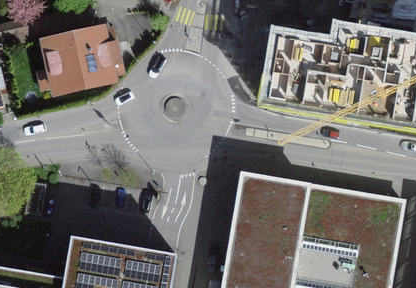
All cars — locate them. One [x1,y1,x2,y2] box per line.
[149,52,166,76]
[90,184,102,207]
[142,189,153,214]
[400,140,416,151]
[114,90,136,104]
[116,186,126,208]
[319,126,341,138]
[24,122,46,134]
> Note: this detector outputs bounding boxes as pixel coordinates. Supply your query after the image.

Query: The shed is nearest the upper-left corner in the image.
[0,19,29,44]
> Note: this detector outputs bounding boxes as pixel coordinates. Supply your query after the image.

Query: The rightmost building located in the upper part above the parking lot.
[37,24,126,96]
